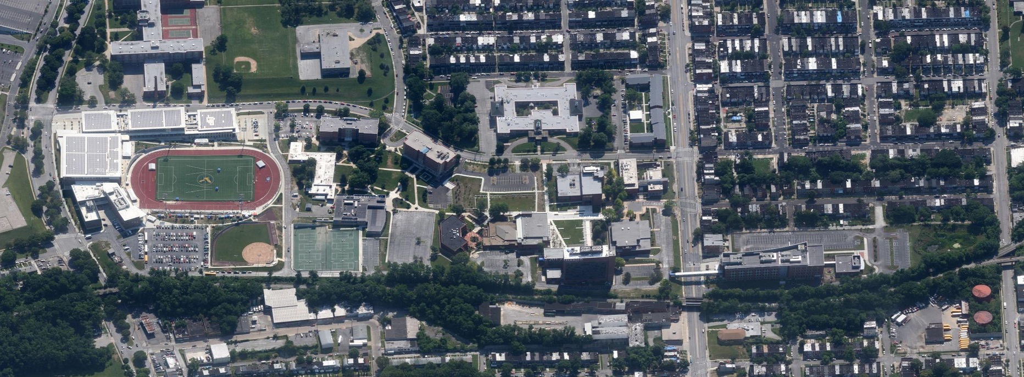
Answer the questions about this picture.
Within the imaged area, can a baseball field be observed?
Yes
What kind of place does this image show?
residential area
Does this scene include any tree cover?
Yes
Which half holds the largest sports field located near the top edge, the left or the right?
left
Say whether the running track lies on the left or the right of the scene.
left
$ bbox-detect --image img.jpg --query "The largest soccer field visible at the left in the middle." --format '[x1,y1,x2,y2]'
[156,155,255,201]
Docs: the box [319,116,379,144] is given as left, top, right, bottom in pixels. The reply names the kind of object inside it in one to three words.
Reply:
building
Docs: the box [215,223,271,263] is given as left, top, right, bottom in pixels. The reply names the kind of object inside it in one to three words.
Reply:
baseball field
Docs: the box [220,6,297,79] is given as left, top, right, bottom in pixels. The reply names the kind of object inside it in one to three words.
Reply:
sports field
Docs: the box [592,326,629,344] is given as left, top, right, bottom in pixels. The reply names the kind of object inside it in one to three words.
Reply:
shed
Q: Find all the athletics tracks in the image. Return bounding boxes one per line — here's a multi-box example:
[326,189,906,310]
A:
[130,148,281,211]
